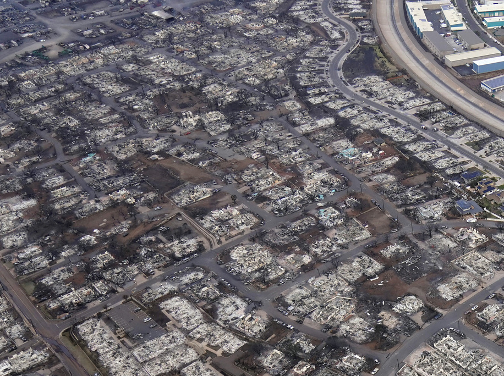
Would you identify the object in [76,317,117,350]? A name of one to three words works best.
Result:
building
